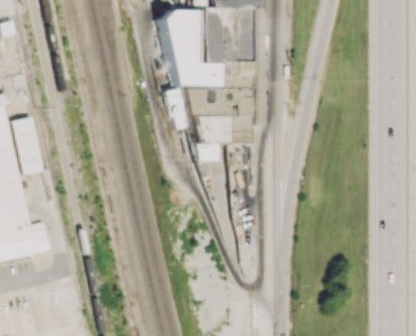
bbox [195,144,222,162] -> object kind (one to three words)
shed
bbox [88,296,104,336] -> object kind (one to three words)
rail car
